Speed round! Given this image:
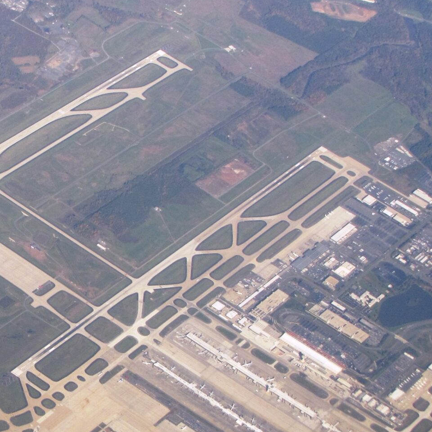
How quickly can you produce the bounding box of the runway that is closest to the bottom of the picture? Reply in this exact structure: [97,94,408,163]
[14,146,325,375]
